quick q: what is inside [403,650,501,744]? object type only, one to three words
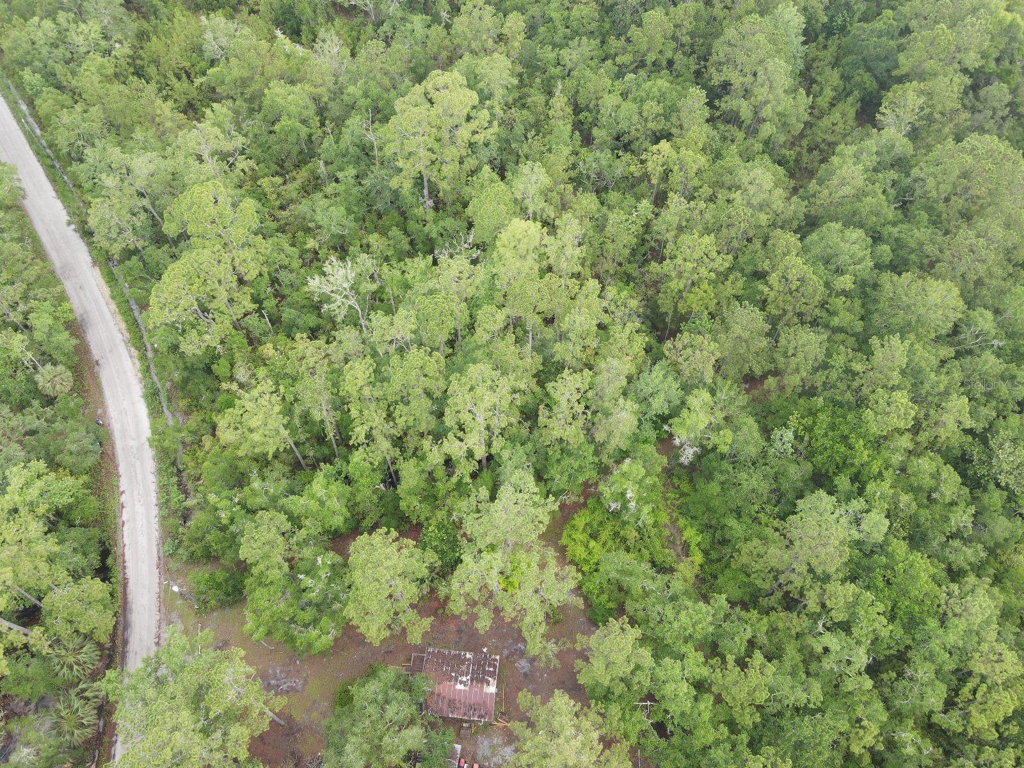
building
